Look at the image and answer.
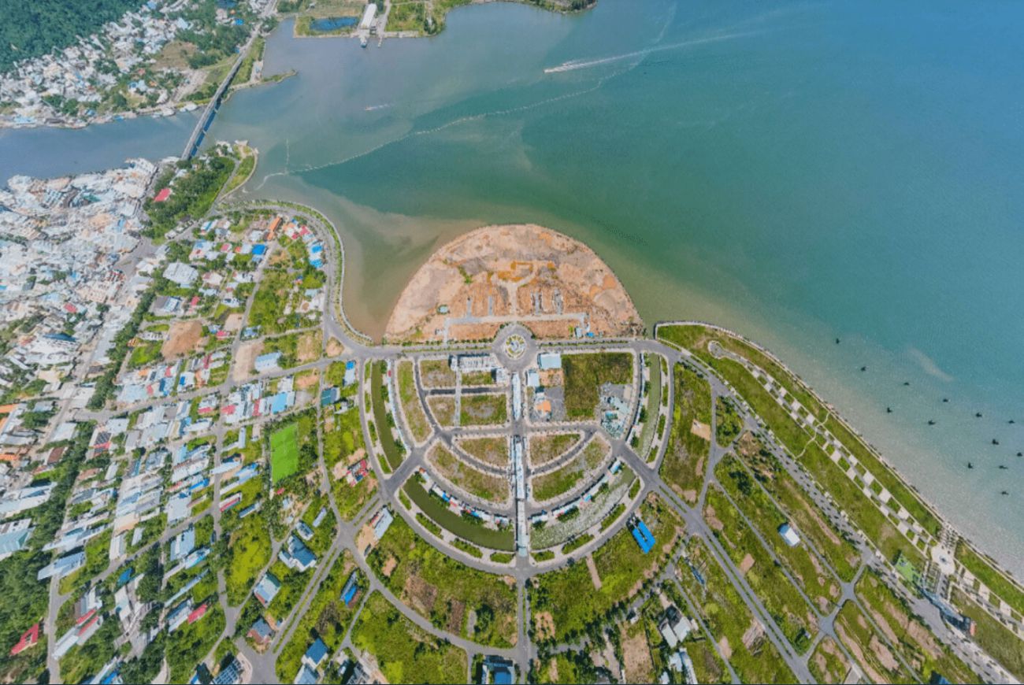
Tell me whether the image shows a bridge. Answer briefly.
Yes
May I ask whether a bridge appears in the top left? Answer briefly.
Yes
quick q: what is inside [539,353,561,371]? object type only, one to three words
building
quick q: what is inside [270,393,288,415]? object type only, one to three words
house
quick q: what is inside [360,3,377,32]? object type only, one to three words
building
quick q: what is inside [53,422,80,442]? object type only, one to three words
house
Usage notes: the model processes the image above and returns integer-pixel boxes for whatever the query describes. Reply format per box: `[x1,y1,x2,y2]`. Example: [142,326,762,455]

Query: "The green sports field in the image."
[271,424,299,482]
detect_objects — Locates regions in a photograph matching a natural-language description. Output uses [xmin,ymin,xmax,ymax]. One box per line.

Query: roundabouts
[492,323,539,369]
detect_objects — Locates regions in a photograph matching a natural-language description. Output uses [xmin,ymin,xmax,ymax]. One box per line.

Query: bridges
[182,29,261,164]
